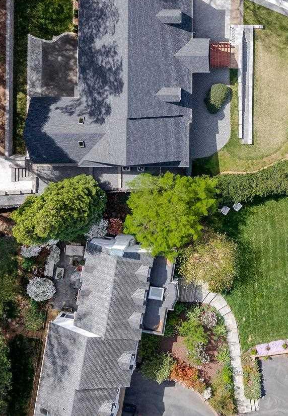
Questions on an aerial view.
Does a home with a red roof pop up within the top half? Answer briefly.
No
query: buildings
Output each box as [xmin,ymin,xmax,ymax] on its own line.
[32,232,181,416]
[23,0,209,169]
